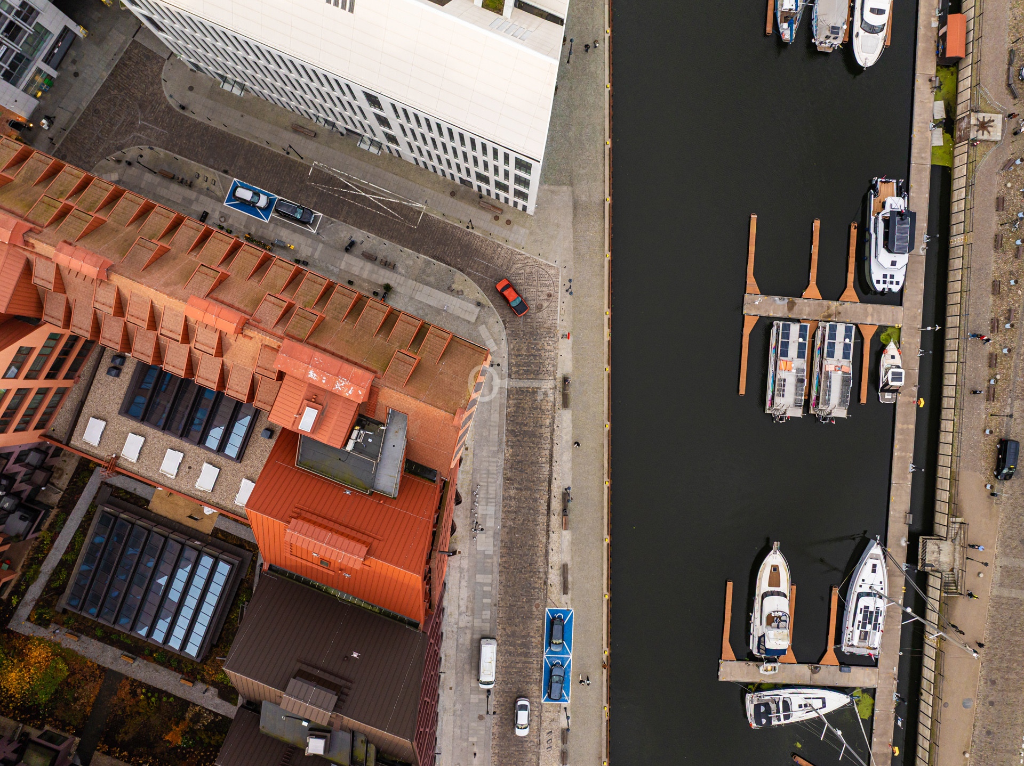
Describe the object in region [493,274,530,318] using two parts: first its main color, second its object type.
red car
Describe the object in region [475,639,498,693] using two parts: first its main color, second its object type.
white vehicle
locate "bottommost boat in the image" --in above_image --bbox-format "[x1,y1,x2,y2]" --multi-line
[732,682,880,766]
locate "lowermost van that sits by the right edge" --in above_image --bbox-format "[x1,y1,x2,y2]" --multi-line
[991,433,1022,480]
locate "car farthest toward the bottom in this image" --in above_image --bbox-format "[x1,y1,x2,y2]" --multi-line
[511,698,532,741]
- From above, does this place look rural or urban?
urban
